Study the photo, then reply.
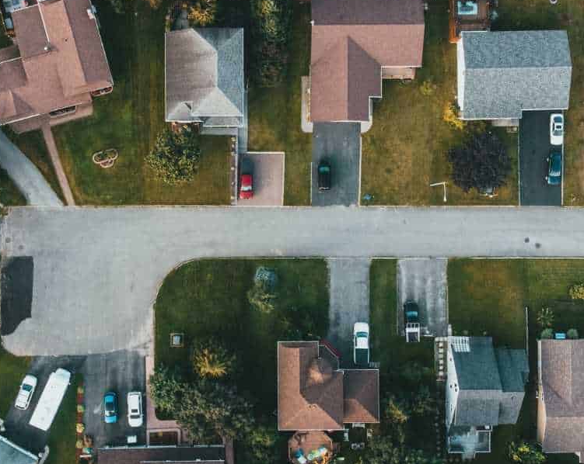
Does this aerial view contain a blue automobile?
Yes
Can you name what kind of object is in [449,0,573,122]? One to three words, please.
house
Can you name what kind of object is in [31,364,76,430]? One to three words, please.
camper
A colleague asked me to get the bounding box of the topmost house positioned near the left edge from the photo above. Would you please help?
[0,0,114,126]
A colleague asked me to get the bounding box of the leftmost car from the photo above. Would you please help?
[13,373,38,412]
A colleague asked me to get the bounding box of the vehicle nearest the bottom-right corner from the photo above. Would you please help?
[403,300,422,345]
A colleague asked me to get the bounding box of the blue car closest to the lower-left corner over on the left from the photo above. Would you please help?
[100,391,118,424]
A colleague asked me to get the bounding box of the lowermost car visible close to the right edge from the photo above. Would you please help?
[544,150,564,184]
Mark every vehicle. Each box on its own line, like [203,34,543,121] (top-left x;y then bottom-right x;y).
[403,300,422,345]
[13,373,38,412]
[353,321,371,365]
[316,160,334,194]
[239,173,255,200]
[31,364,76,430]
[100,391,118,424]
[124,391,142,429]
[546,113,566,147]
[544,150,564,184]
